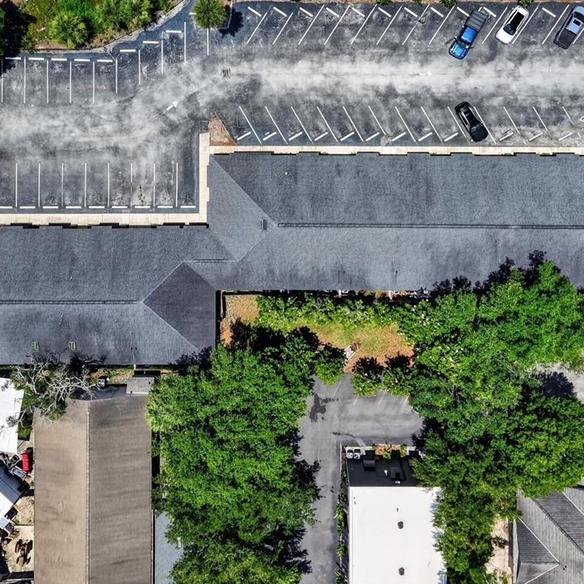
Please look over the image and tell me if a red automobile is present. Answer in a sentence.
Yes, the photo shows a red automobile.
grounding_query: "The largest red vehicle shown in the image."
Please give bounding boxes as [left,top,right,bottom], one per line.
[16,444,34,476]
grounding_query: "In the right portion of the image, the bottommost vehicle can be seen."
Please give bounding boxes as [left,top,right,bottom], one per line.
[455,100,486,145]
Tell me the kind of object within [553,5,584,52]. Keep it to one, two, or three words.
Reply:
truck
